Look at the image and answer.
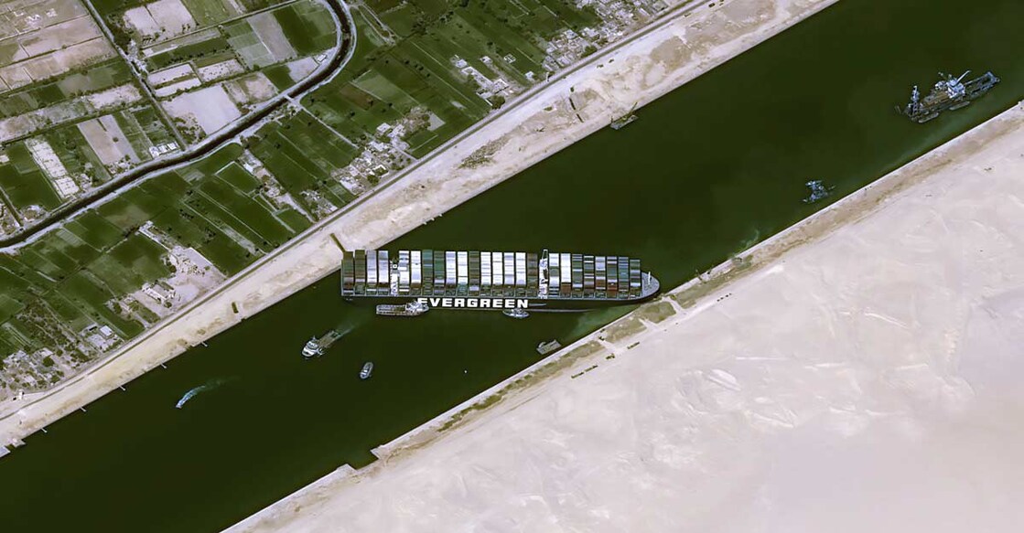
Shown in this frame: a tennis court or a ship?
ship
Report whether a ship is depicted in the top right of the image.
Yes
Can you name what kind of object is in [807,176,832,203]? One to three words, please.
ship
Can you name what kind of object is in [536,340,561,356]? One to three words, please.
ship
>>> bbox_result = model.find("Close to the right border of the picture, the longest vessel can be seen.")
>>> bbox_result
[906,68,1000,118]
